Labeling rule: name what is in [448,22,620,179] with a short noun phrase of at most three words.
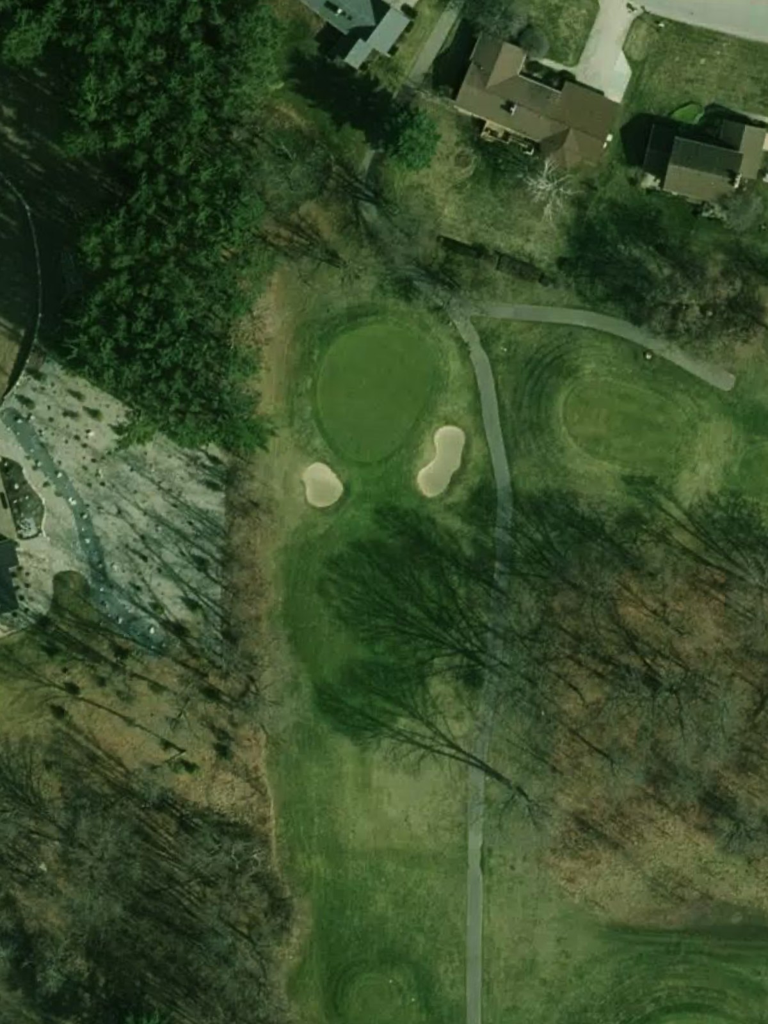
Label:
house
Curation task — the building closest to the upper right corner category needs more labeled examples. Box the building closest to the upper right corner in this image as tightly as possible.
[640,120,768,208]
